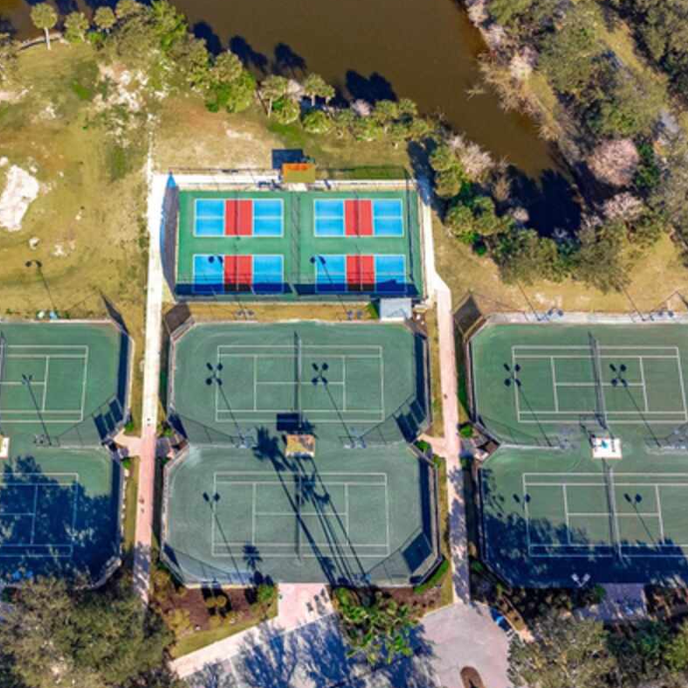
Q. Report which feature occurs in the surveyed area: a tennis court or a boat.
tennis court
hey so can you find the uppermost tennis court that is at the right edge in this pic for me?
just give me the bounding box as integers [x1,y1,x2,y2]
[471,320,688,447]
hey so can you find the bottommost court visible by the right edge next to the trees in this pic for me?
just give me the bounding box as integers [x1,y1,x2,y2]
[479,446,688,585]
